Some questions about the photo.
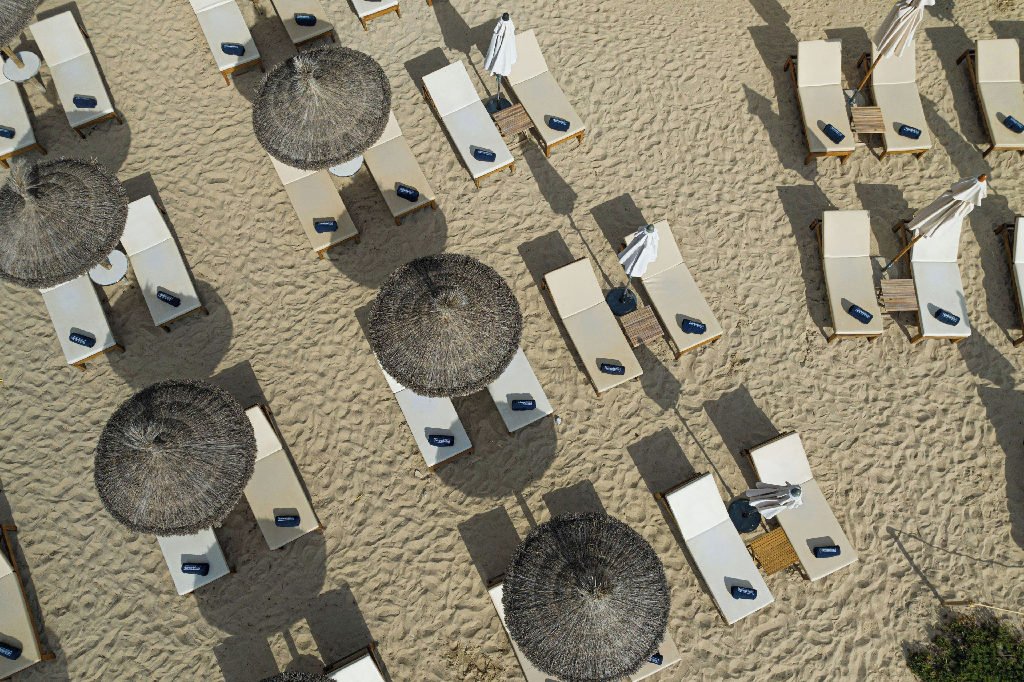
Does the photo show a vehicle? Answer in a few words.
No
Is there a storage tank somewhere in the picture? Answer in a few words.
No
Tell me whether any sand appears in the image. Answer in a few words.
Yes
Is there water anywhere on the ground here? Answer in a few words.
No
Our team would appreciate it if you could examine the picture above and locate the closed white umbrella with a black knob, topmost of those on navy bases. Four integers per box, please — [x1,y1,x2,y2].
[483,12,517,101]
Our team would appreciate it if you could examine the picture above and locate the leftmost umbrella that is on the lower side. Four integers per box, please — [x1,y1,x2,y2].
[90,373,262,542]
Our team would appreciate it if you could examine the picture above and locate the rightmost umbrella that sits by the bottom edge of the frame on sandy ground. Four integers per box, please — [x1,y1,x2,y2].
[497,507,675,682]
